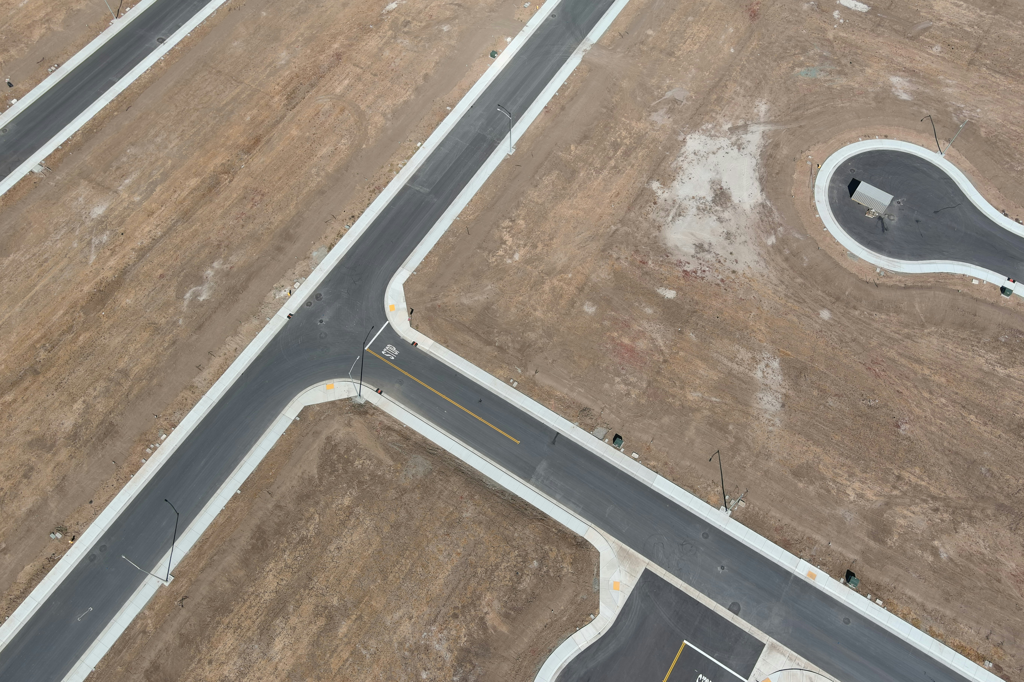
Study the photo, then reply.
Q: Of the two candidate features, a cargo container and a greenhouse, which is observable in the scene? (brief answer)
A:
cargo container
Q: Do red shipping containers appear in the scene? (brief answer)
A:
No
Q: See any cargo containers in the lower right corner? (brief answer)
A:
No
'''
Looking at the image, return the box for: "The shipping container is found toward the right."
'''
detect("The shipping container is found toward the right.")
[852,181,893,213]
